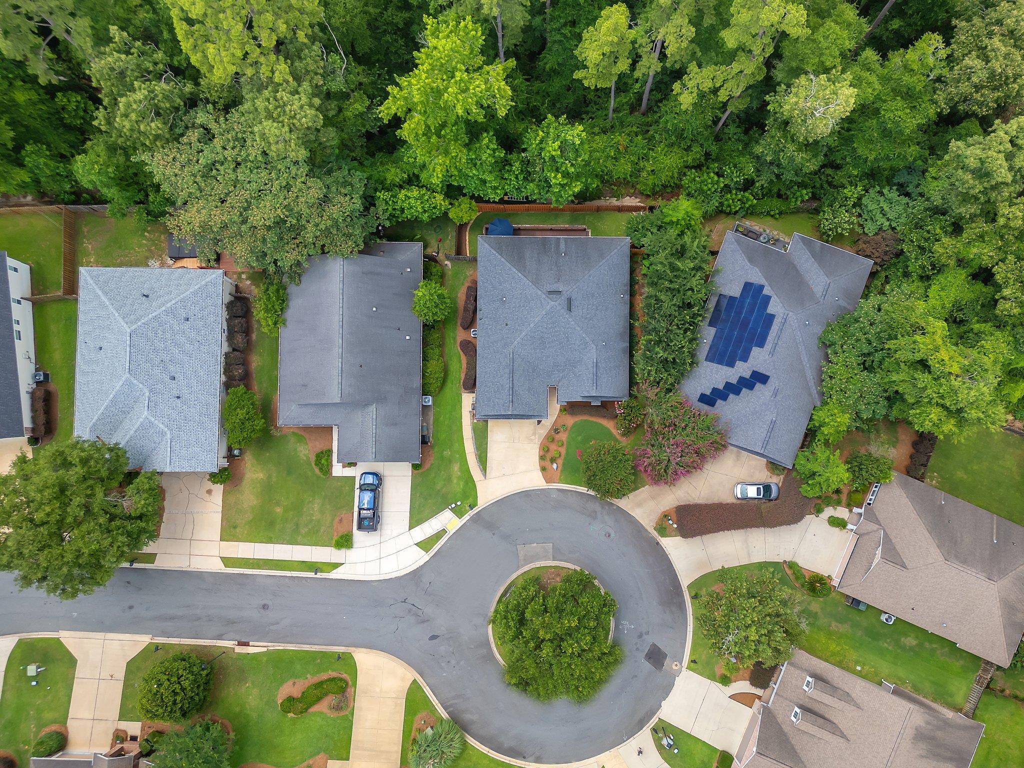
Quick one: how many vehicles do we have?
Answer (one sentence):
Altogether the scene contains 2 vehicles.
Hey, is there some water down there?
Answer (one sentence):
No, the picture contains no water.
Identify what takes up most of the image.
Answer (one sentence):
The scene is dominated by trees.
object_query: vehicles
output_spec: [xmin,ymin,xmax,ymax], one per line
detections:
[733,480,779,504]
[356,471,383,534]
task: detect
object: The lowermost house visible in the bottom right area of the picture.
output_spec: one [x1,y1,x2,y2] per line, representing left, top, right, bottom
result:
[734,647,986,768]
